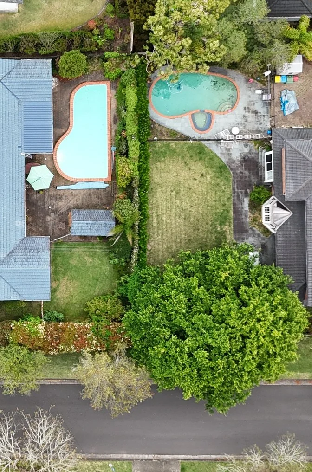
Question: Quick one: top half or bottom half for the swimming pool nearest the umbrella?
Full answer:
You can find the swimming pool nearest the umbrella in the top half.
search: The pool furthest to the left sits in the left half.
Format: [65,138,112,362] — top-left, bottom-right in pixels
[52,81,111,182]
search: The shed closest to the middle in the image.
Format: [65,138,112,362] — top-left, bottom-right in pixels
[71,210,115,236]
